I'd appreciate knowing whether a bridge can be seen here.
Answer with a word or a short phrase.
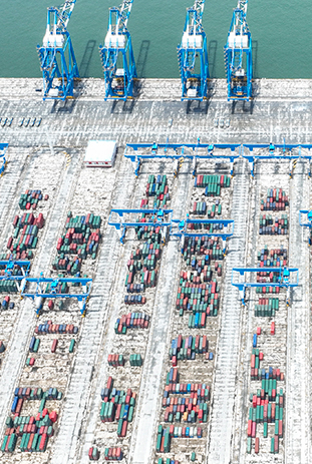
No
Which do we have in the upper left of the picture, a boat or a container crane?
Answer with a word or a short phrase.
container crane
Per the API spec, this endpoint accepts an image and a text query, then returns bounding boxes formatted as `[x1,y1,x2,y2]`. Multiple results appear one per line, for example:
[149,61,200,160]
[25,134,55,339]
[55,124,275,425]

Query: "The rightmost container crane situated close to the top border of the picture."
[223,0,258,101]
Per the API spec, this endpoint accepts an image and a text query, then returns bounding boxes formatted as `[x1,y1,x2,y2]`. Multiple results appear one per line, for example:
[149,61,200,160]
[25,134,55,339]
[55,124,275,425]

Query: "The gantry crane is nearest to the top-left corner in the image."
[35,0,83,100]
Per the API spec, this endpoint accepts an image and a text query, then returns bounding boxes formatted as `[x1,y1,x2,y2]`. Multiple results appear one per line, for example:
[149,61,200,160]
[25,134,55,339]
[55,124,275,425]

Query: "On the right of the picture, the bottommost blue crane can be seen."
[231,262,298,306]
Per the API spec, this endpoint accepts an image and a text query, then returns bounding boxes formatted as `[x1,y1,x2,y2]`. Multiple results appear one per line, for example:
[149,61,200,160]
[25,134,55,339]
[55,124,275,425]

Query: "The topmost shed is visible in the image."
[84,141,117,167]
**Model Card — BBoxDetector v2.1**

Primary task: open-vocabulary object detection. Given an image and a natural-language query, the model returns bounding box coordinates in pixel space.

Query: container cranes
[243,138,300,176]
[0,255,32,299]
[169,213,234,255]
[109,203,174,245]
[175,0,214,100]
[125,138,185,177]
[21,272,94,317]
[223,0,258,101]
[299,208,312,246]
[231,262,298,306]
[183,138,243,176]
[97,0,141,100]
[35,0,83,100]
[0,144,15,176]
